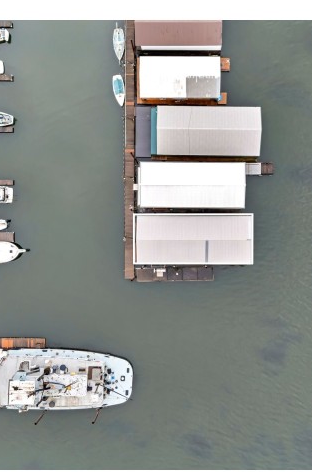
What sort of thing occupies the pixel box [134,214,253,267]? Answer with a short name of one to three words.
house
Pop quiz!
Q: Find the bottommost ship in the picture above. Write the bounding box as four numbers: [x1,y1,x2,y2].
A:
[0,344,134,413]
